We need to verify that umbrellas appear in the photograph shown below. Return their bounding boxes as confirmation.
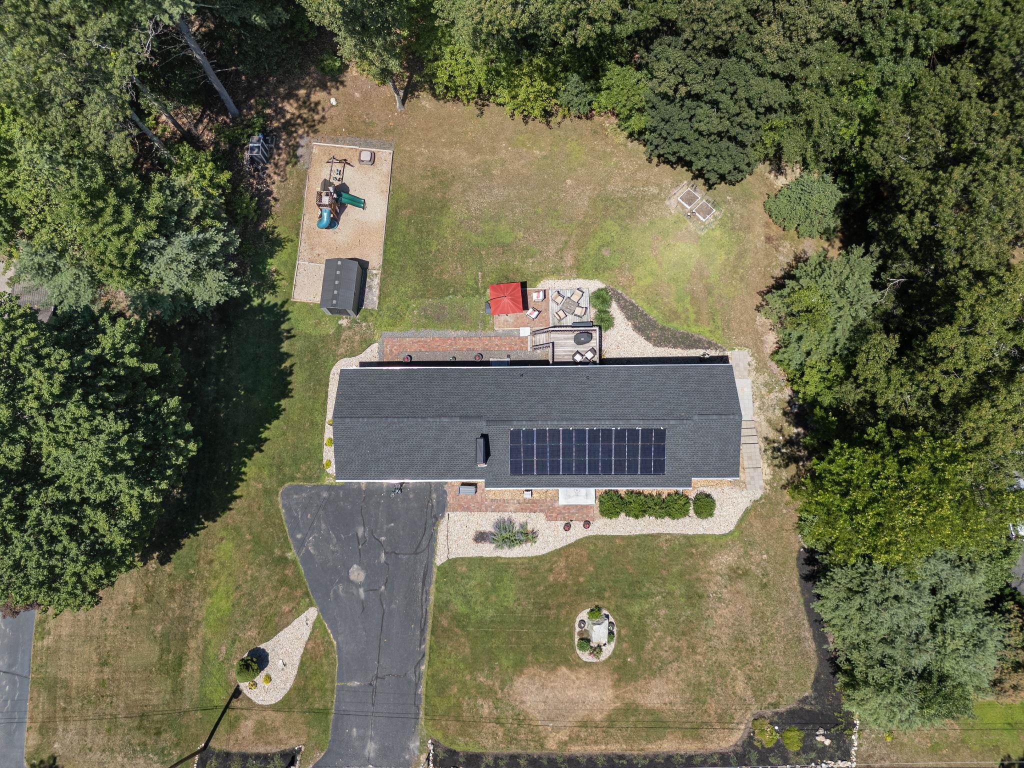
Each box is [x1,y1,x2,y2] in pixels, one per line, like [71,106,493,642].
[485,282,523,315]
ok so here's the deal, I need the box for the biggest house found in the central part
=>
[332,362,742,491]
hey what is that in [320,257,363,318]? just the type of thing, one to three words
shed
